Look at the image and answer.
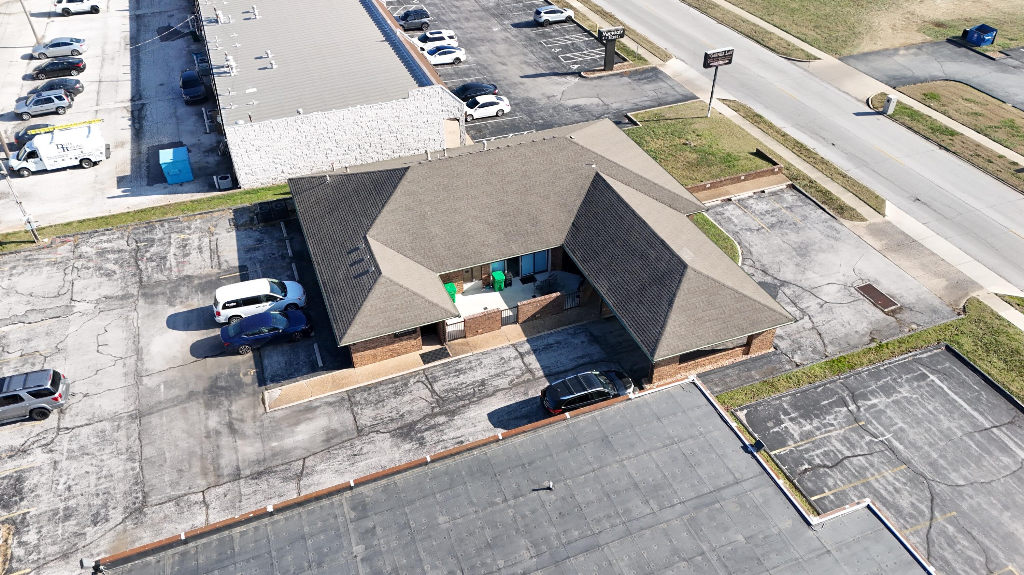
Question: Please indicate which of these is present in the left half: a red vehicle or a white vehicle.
white vehicle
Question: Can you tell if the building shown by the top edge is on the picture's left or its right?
left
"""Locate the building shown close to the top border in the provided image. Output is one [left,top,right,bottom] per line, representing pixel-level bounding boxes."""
[193,0,466,188]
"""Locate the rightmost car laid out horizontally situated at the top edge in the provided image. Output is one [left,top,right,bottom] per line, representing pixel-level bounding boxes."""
[532,3,577,25]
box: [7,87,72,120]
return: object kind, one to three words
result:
car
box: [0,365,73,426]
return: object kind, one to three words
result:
car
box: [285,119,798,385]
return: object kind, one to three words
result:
building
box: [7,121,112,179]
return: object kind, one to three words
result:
truck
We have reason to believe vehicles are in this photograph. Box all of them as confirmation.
[464,93,513,121]
[12,120,81,148]
[7,121,112,179]
[51,0,104,16]
[215,306,315,355]
[539,368,642,421]
[423,44,468,65]
[24,78,88,99]
[0,365,73,426]
[411,24,461,51]
[28,36,88,59]
[180,67,208,104]
[396,7,432,30]
[453,81,499,100]
[208,273,308,323]
[27,55,86,79]
[532,3,577,25]
[7,87,72,120]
